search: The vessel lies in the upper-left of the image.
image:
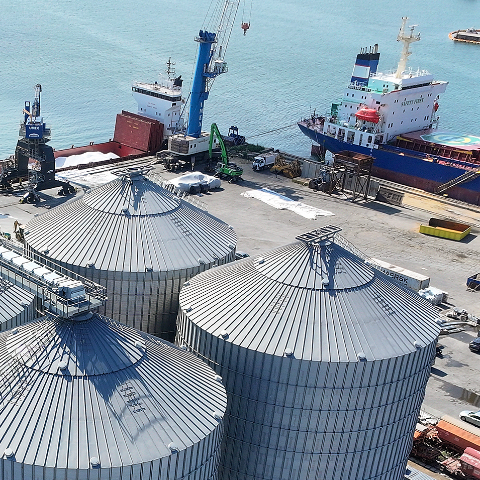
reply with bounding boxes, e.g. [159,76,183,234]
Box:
[53,61,206,175]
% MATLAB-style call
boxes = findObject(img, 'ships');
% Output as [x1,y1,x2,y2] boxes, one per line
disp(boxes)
[53,61,206,175]
[296,3,480,199]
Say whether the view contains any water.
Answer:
Yes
